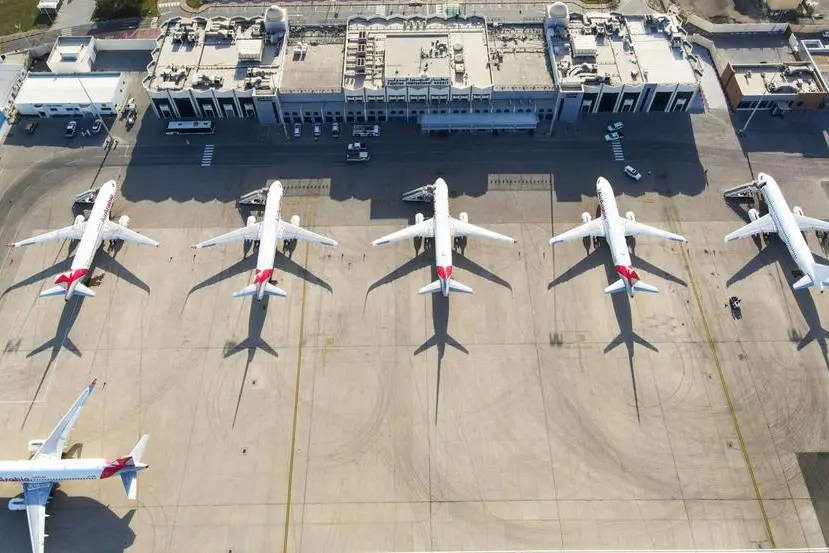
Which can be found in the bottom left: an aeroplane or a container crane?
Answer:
aeroplane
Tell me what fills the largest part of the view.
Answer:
paved ground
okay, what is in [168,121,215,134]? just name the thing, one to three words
vehicle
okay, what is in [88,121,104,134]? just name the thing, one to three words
vehicle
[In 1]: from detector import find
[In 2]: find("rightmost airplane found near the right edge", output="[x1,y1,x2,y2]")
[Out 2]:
[725,173,829,290]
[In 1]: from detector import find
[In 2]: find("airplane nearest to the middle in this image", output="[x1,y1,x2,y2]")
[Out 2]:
[373,178,512,297]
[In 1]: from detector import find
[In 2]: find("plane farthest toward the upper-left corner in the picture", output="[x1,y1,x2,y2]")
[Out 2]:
[8,181,160,301]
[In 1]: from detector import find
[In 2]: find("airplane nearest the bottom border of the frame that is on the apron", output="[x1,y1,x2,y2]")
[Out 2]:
[0,382,150,553]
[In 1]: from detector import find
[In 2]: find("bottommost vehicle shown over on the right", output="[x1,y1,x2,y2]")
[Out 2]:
[729,299,742,316]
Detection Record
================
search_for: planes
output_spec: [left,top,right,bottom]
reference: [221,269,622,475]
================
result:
[8,181,160,301]
[0,382,150,553]
[725,173,829,290]
[549,177,687,296]
[196,180,337,300]
[373,178,512,297]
